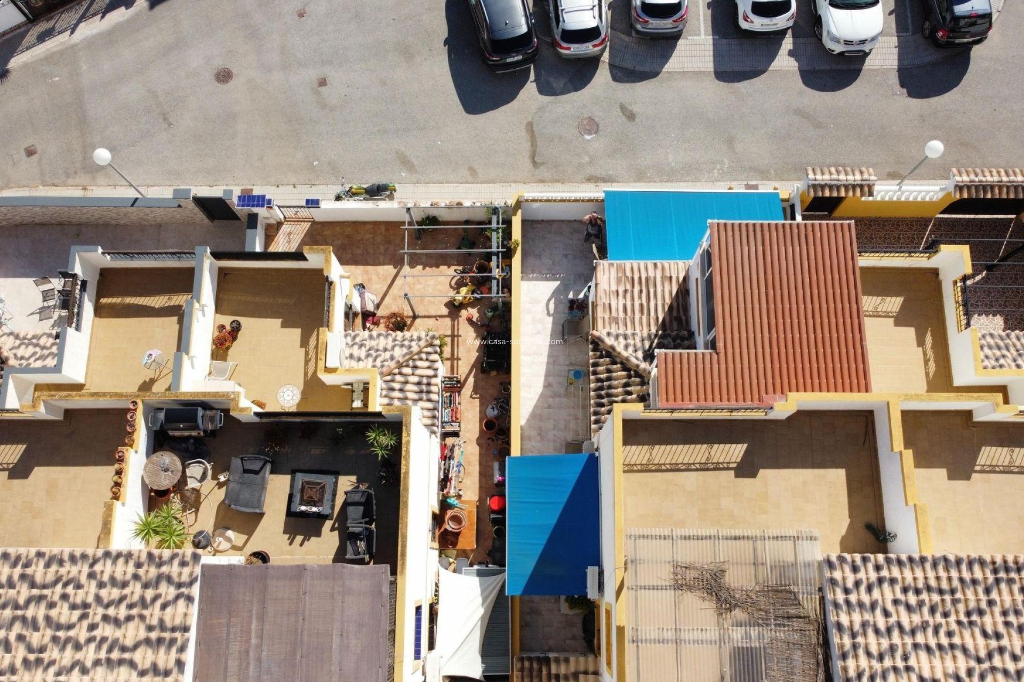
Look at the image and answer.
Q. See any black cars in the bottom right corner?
No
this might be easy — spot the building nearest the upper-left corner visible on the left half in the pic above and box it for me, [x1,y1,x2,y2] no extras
[0,243,219,404]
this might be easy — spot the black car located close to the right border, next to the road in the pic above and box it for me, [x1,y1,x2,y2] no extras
[917,0,996,52]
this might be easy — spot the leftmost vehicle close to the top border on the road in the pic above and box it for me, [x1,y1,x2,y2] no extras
[468,0,539,74]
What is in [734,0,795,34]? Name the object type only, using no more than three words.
car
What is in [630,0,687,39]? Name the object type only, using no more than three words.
car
